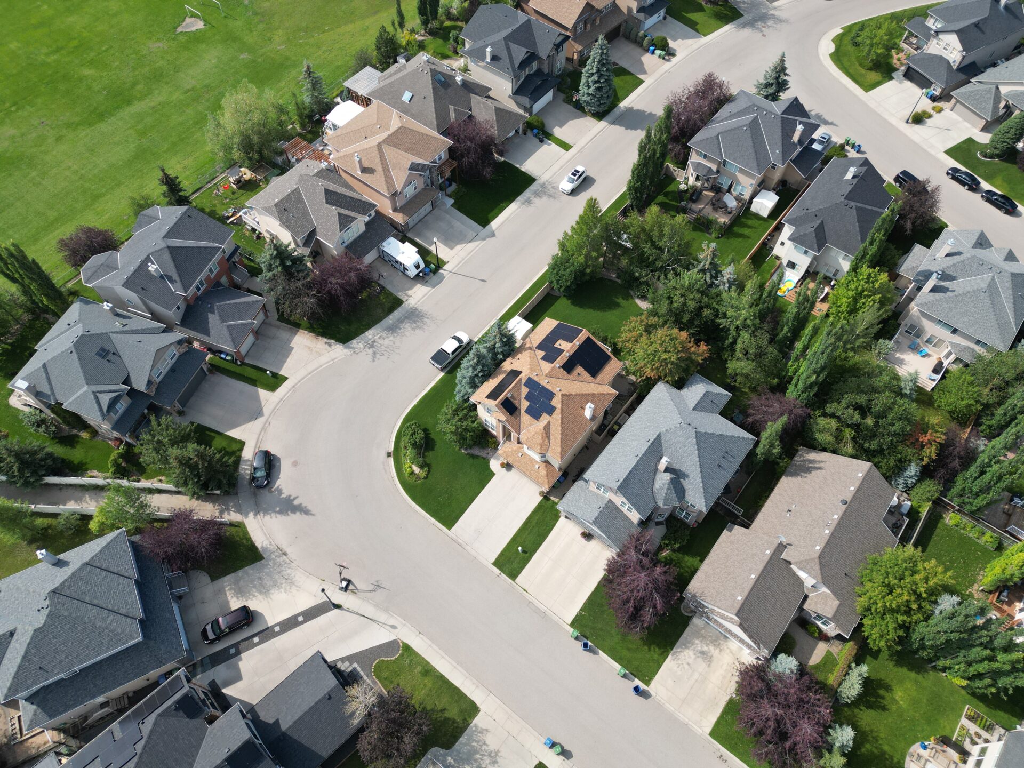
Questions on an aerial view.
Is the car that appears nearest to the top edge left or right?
right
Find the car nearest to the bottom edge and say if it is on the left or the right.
left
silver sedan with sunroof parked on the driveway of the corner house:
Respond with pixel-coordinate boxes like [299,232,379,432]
[811,126,837,150]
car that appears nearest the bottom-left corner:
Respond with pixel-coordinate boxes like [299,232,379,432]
[200,609,253,649]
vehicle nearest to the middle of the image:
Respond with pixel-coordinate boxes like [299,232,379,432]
[427,332,472,371]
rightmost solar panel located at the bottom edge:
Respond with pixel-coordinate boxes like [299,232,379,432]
[224,741,267,768]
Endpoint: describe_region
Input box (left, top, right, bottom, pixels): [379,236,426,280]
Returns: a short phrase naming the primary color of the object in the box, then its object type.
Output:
white trailer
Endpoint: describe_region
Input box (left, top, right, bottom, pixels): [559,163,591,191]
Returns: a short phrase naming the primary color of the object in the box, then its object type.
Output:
white car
